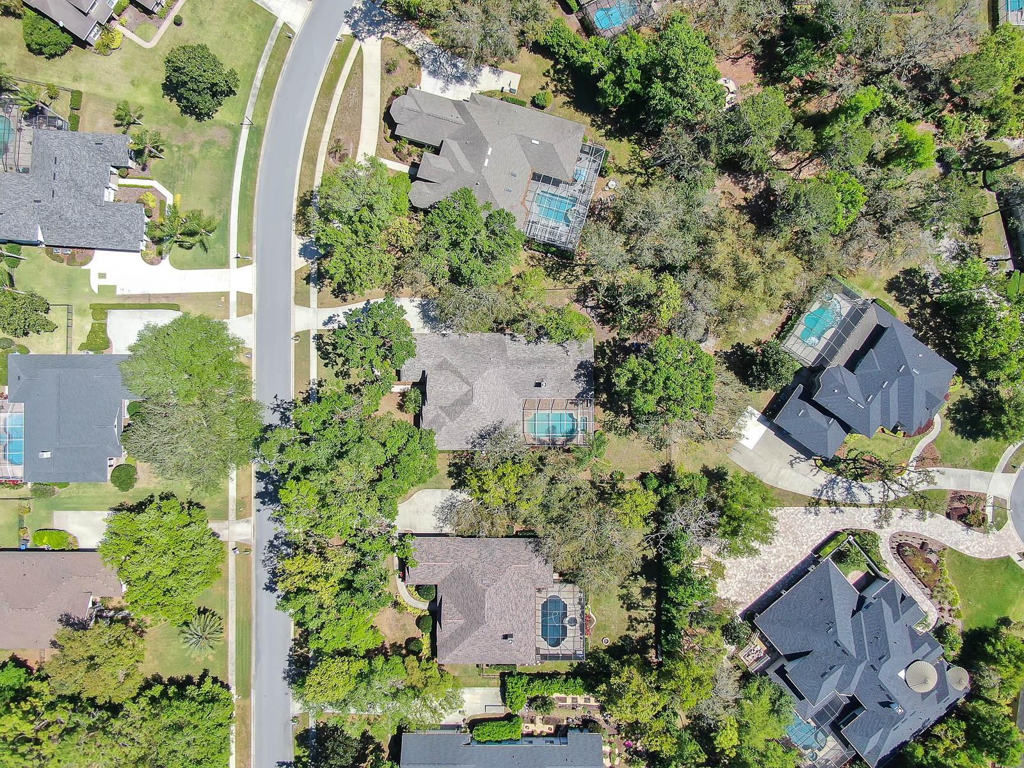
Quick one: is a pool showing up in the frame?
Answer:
Yes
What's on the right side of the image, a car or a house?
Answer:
house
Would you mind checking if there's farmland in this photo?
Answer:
No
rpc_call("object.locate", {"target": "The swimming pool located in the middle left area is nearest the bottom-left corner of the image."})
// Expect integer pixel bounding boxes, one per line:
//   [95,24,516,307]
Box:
[0,412,23,467]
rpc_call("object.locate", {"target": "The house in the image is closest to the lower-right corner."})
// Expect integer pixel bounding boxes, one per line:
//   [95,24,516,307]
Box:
[755,557,969,768]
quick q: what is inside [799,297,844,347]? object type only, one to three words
swimming pool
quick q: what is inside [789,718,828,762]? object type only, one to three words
swimming pool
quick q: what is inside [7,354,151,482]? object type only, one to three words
house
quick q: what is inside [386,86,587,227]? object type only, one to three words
house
